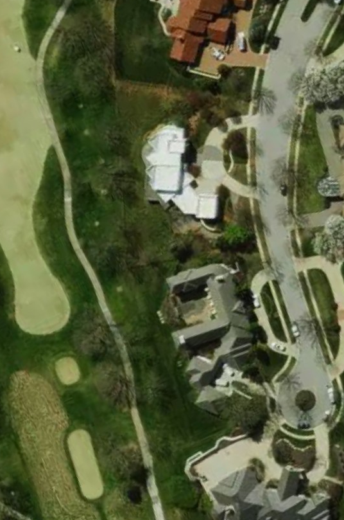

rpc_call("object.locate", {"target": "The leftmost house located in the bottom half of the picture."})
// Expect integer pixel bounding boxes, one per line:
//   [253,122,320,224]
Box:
[164,258,255,418]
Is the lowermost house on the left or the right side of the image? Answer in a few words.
right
